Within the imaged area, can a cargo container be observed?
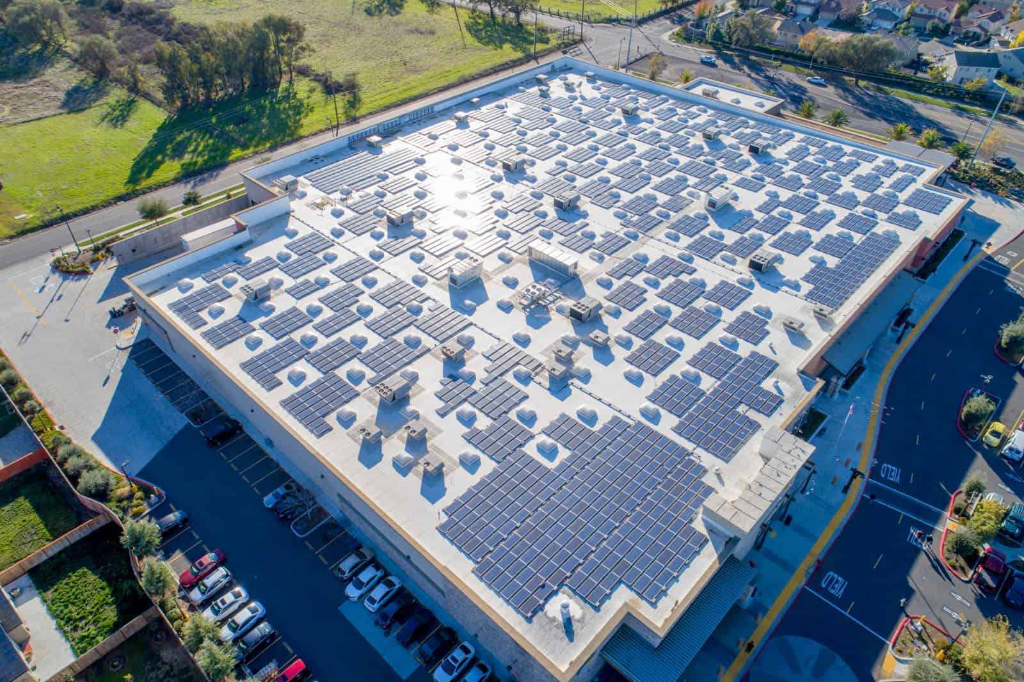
No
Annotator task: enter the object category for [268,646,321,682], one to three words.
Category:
vehicle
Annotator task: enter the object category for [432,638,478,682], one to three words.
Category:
car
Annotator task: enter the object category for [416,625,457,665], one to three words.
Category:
car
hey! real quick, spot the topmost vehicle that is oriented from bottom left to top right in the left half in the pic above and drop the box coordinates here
[203,417,242,447]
